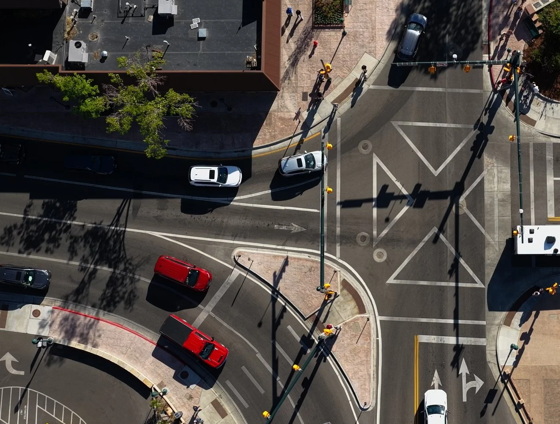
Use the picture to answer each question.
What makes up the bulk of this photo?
paved ground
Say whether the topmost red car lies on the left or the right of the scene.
left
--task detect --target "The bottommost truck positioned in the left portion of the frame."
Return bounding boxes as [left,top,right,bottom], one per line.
[159,314,231,367]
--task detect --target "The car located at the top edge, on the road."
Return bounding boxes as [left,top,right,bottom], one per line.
[396,12,429,61]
